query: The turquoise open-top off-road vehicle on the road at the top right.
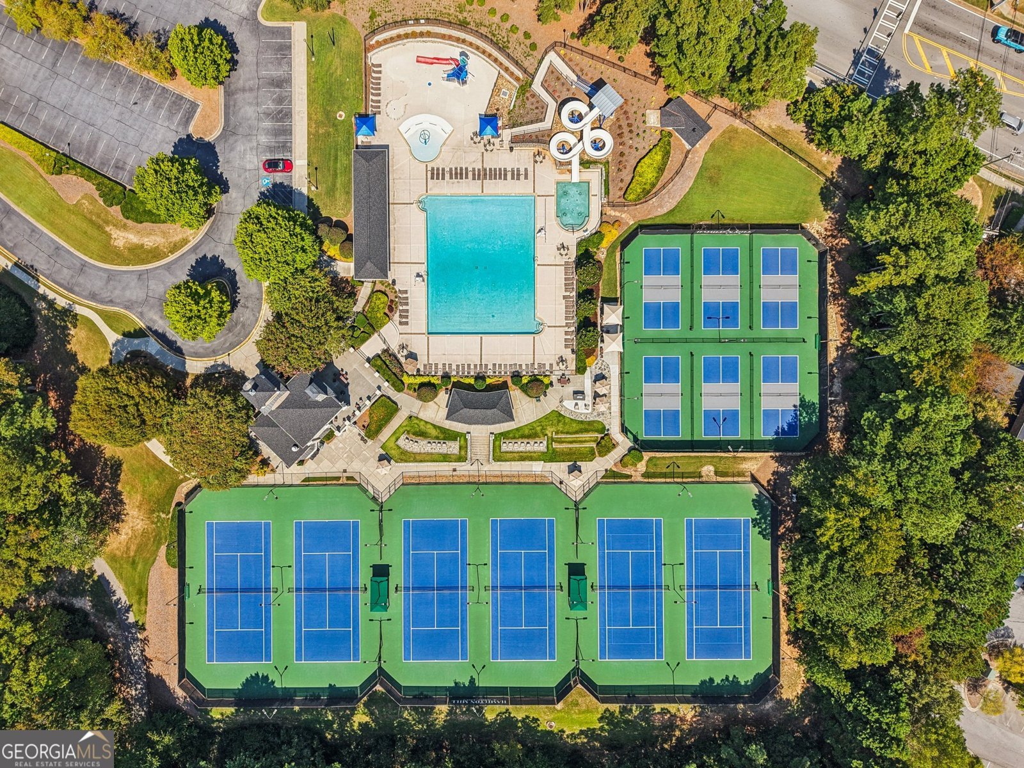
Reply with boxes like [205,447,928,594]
[995,25,1024,48]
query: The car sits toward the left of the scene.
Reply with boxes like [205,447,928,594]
[261,157,291,172]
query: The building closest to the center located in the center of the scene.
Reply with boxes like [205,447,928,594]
[445,388,515,425]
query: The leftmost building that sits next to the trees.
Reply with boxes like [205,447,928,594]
[241,369,345,469]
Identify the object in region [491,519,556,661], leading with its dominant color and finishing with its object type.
blue tennis court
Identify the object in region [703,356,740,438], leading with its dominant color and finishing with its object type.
blue sports court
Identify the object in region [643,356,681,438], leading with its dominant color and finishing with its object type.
blue sports court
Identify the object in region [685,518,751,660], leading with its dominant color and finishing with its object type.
blue tennis court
